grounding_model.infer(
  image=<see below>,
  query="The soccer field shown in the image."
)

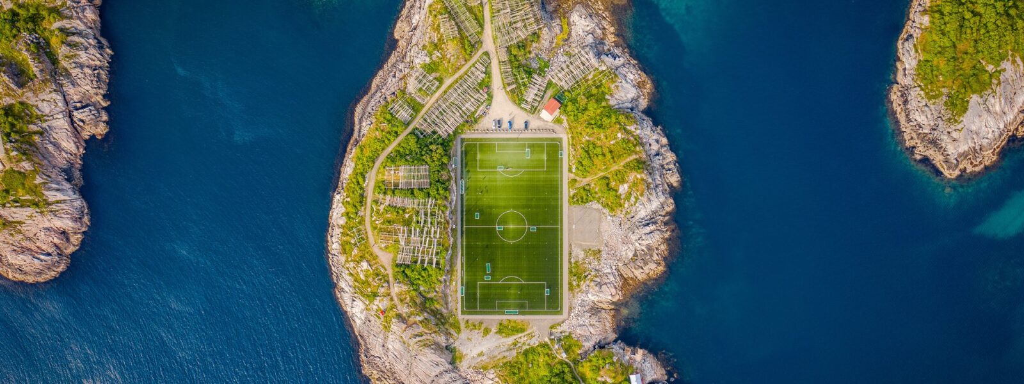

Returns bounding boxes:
[460,137,563,315]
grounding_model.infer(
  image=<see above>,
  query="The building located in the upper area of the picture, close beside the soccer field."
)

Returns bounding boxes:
[538,98,561,125]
